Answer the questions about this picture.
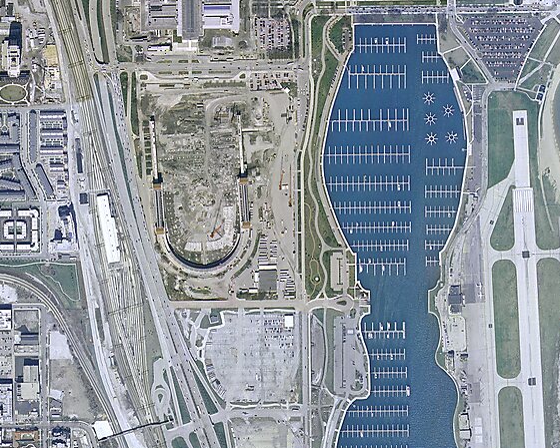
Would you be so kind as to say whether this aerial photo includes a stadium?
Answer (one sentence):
Yes, you can see a stadium in this photo.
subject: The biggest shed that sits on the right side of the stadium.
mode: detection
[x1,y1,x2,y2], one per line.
[259,270,276,291]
